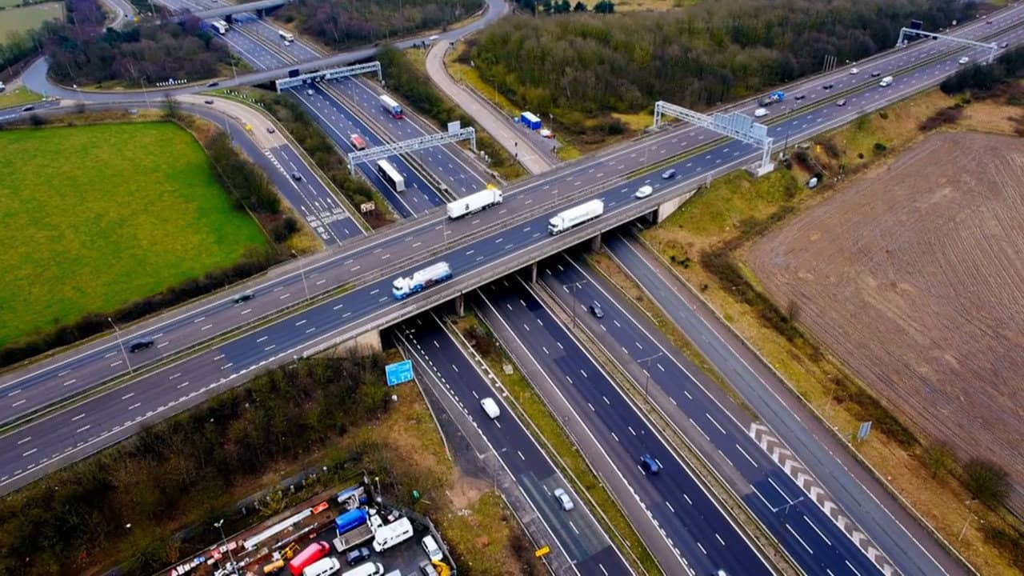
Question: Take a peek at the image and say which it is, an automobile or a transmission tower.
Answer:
automobile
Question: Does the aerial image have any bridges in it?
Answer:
Yes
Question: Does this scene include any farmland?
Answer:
Yes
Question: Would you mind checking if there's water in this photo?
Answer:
No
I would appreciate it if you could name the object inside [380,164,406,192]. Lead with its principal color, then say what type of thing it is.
white truck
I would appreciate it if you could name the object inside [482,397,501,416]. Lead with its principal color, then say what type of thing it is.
white vehicle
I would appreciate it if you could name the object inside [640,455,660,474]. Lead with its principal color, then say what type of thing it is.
blue car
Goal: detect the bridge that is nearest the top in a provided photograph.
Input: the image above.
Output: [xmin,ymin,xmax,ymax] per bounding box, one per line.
[179,0,281,24]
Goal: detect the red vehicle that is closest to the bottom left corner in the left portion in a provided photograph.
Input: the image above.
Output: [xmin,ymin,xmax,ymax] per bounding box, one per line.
[288,548,332,576]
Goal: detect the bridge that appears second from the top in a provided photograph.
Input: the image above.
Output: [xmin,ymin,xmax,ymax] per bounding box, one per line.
[248,48,374,88]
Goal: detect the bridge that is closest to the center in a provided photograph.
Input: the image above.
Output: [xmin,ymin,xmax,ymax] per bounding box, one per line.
[231,142,706,366]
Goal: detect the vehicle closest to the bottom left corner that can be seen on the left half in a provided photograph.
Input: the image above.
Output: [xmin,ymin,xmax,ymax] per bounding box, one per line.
[128,338,154,352]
